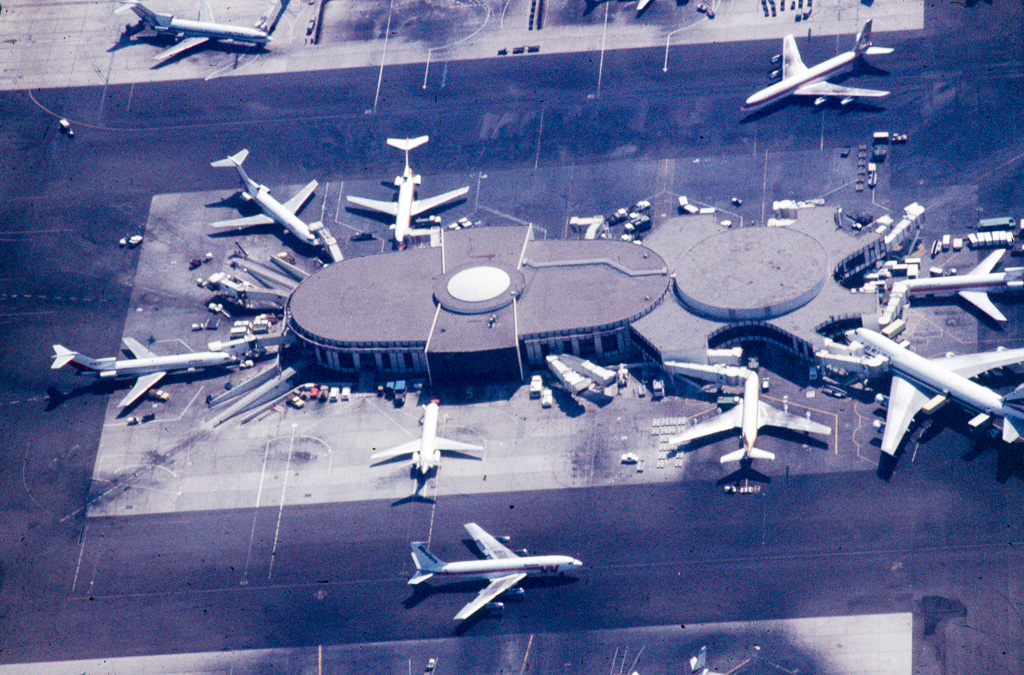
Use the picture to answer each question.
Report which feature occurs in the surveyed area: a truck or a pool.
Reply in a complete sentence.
The one in the frame is a truck.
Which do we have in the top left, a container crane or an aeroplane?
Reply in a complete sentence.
Looking in the top left, you will find an aeroplane.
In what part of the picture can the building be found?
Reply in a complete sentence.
You can find the building in the center area of the picture.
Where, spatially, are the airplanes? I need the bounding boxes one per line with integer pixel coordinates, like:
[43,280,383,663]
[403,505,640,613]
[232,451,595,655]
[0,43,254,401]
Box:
[49,335,235,408]
[670,374,834,468]
[682,644,739,675]
[406,522,583,622]
[209,151,318,245]
[907,248,1024,321]
[845,326,1024,460]
[743,20,897,117]
[110,0,272,59]
[346,137,470,248]
[372,400,485,475]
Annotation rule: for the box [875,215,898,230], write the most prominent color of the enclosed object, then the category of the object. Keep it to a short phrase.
white jet bridge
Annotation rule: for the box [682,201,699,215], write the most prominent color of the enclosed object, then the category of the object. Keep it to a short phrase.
white vehicle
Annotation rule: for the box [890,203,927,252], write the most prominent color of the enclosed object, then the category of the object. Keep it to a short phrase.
white jet bridge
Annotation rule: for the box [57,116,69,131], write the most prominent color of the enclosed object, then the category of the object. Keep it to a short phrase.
white vehicle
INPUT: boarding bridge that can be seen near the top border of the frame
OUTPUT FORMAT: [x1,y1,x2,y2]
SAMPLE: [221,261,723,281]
[259,0,286,33]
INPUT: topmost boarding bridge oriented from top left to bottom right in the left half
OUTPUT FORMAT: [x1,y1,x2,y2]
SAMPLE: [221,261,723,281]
[309,221,344,263]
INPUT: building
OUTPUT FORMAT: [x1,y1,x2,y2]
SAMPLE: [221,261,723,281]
[282,206,895,391]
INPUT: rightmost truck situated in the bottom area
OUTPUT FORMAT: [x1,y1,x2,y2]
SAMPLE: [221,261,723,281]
[962,416,995,448]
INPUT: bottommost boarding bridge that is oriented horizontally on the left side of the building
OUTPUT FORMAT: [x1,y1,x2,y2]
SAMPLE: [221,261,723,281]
[204,330,290,363]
